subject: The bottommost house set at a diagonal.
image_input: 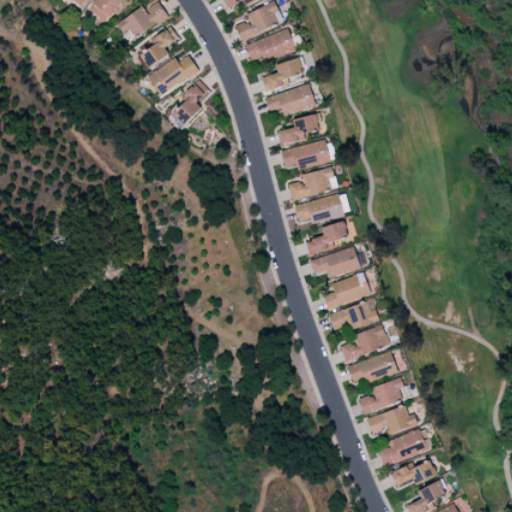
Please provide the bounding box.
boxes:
[406,478,448,512]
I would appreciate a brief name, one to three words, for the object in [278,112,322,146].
house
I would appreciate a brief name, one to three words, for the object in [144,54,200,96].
house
